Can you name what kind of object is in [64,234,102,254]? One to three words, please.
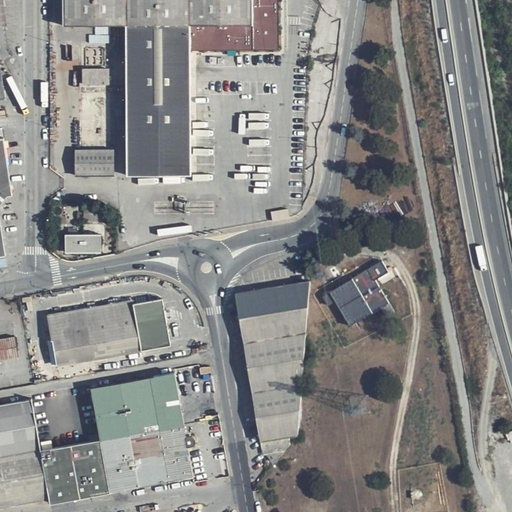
house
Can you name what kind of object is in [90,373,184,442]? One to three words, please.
building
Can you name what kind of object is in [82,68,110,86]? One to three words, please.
shed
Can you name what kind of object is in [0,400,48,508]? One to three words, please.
building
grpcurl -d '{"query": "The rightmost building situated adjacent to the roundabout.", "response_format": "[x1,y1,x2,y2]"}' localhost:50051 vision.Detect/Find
[236,282,310,442]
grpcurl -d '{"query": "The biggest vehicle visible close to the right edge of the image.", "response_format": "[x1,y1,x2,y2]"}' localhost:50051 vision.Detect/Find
[475,244,488,270]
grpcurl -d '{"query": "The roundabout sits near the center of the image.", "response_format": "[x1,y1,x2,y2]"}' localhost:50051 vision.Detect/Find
[181,242,232,293]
